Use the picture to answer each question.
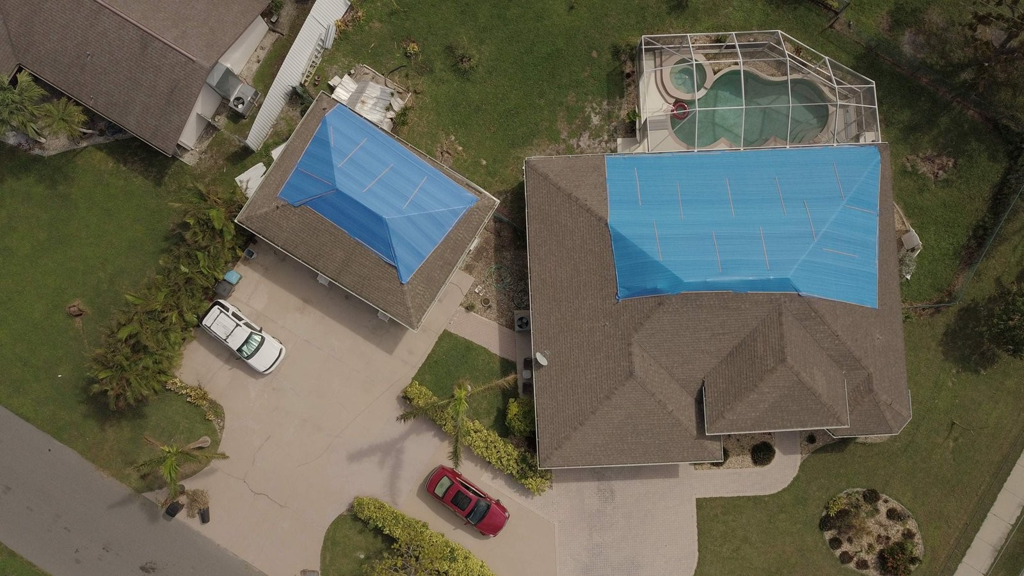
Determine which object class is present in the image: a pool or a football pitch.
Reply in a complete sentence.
The image shows a pool.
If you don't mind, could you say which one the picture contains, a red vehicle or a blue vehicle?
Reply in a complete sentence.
Looking from above, you can make out a red vehicle.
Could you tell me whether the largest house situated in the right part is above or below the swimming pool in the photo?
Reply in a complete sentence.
The position of the largest house situated in the right part is below the swimming pool.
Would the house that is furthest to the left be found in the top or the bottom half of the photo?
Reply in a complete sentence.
It is in the top half that the house that is furthest to the left appears.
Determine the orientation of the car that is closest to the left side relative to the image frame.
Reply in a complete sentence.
From this overhead view, the car that is closest to the left side appears to run at an angle.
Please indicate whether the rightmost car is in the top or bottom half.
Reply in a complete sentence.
Seen from above, the rightmost car lies in the bottom half of the view.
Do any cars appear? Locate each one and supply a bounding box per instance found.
[199,300,288,375]
[425,465,508,535]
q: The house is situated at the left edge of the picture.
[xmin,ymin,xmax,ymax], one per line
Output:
[0,0,270,158]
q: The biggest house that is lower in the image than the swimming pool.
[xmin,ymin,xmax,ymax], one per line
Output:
[522,141,914,471]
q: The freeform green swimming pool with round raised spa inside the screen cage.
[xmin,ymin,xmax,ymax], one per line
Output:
[656,45,835,149]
